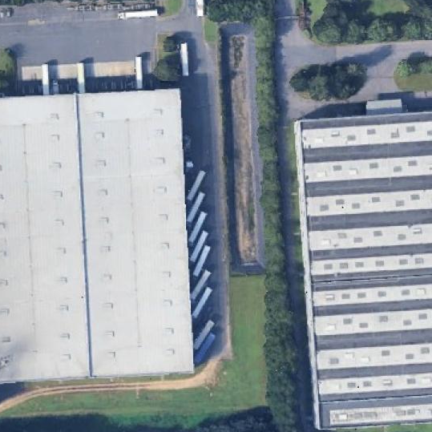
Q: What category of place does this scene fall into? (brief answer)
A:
industrial area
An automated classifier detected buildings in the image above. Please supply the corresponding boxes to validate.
[291,99,432,429]
[0,88,194,384]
